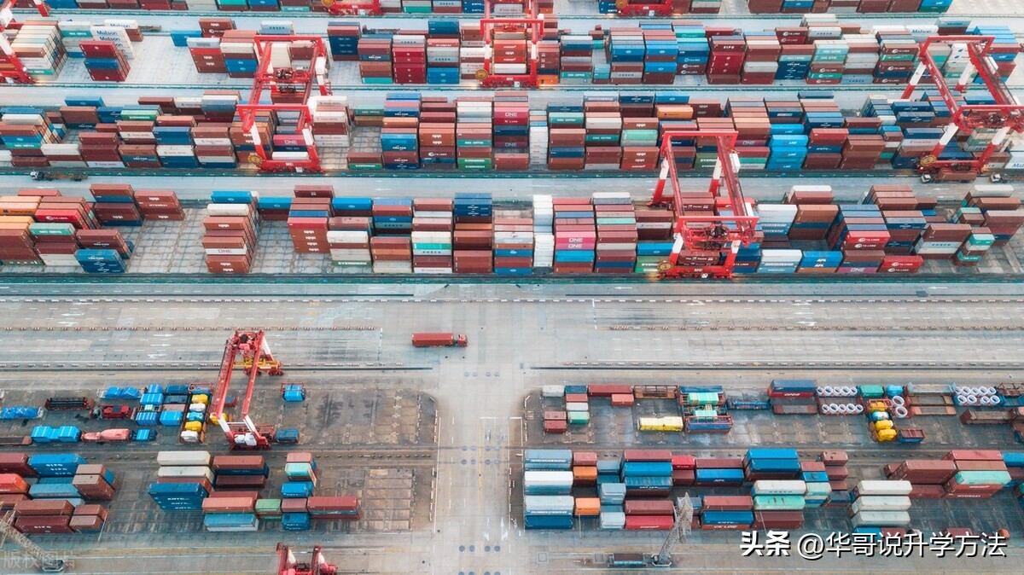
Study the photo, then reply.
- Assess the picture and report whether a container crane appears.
Yes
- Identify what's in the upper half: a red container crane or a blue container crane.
red container crane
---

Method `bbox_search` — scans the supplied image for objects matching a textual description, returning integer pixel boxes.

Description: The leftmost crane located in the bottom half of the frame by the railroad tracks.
[209,329,287,448]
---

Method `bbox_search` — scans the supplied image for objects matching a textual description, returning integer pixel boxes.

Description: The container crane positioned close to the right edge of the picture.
[894,40,1024,172]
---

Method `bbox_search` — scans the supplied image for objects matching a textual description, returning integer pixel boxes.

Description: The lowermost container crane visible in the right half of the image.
[646,134,759,280]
